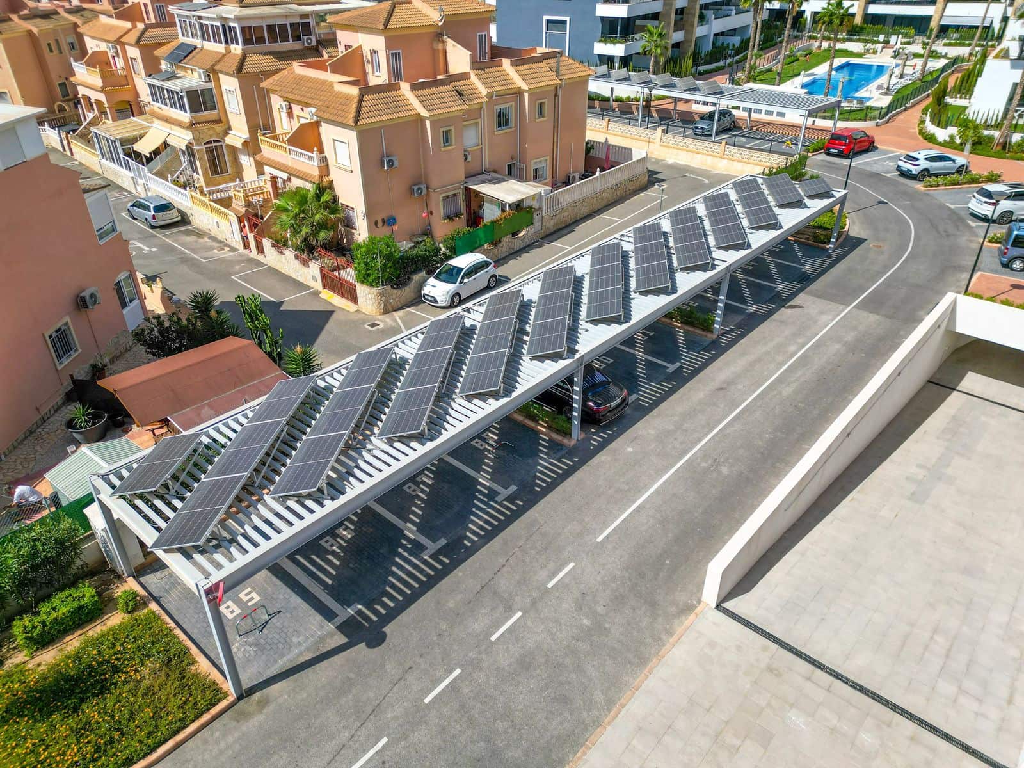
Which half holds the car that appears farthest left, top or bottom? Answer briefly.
top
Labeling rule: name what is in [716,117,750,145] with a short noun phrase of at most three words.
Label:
car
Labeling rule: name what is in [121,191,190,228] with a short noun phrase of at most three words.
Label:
car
